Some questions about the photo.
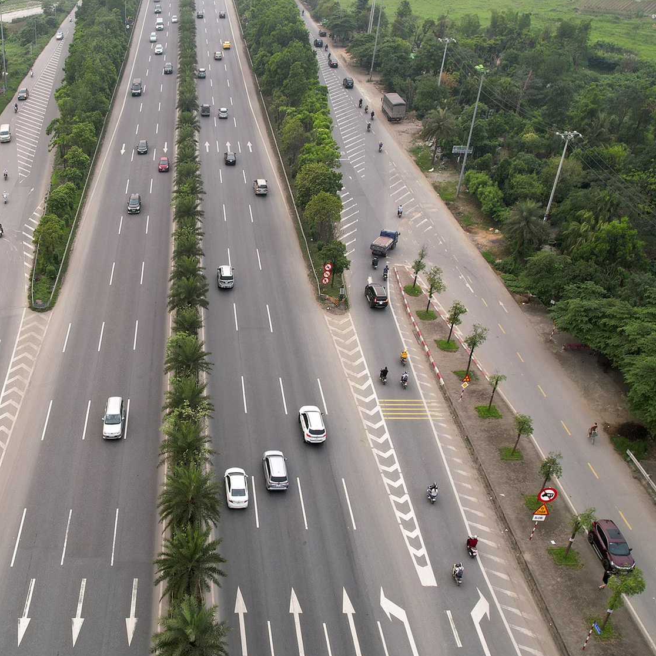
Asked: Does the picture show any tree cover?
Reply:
Yes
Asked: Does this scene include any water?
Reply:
No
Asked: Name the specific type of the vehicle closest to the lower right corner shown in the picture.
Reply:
automobile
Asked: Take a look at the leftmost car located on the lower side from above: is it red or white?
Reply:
white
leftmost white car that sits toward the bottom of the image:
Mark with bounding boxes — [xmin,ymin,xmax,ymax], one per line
[99,397,126,439]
